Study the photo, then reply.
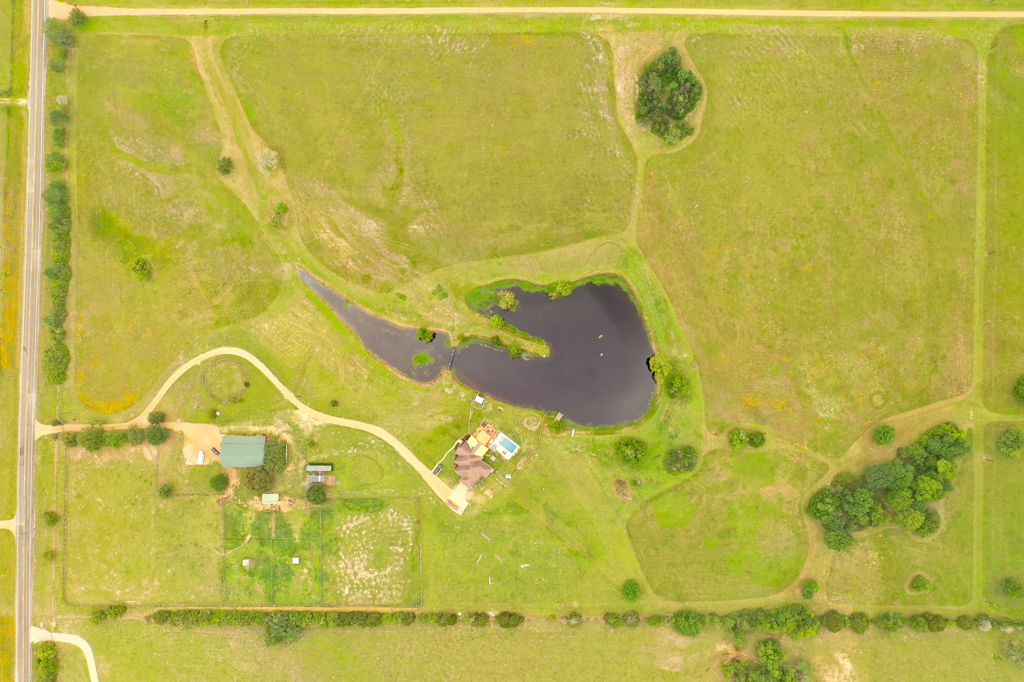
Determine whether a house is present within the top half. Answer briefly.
No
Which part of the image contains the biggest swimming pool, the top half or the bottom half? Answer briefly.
bottom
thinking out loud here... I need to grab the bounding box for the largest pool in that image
[489,432,520,460]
